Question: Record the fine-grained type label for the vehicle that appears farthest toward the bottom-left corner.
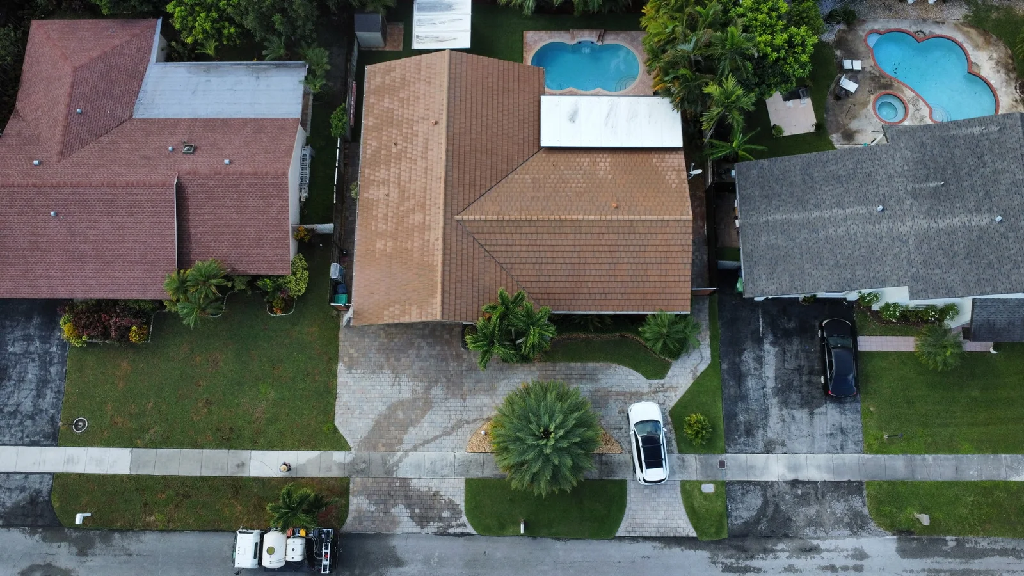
truck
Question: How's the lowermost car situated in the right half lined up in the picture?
from top to bottom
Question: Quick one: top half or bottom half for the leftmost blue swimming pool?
top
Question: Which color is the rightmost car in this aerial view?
black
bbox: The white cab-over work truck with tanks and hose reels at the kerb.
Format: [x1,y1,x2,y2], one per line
[229,520,343,575]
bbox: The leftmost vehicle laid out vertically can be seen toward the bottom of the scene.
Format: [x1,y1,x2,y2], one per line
[628,400,672,486]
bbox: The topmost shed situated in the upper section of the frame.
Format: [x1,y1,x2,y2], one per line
[354,13,386,48]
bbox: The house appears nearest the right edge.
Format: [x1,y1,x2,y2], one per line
[732,113,1024,343]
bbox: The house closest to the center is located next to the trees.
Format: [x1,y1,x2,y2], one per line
[350,50,692,326]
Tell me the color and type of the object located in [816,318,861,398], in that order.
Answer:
black car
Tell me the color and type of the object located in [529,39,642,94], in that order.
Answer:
blue swimming pool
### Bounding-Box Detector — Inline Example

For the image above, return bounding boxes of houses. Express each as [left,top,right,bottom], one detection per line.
[0,17,309,299]
[732,113,1024,343]
[350,50,692,326]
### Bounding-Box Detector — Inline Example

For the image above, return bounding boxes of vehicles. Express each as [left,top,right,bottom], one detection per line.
[816,318,861,398]
[628,400,672,486]
[229,520,343,575]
